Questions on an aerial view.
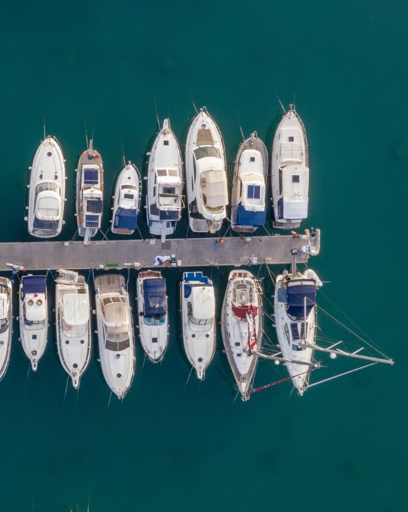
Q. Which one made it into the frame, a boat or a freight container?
boat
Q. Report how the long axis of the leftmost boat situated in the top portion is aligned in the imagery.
up and down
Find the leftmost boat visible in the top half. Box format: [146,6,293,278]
[28,134,67,238]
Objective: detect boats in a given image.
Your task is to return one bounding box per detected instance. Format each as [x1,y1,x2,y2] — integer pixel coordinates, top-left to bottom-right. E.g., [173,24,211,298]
[92,275,135,403]
[272,254,397,398]
[306,228,321,257]
[267,106,310,228]
[219,272,340,403]
[110,160,142,234]
[19,275,48,372]
[301,264,327,296]
[143,118,183,242]
[178,272,217,381]
[74,140,105,245]
[57,269,82,286]
[183,106,228,233]
[0,279,12,380]
[54,278,92,390]
[227,130,271,231]
[135,270,170,366]
[28,134,67,238]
